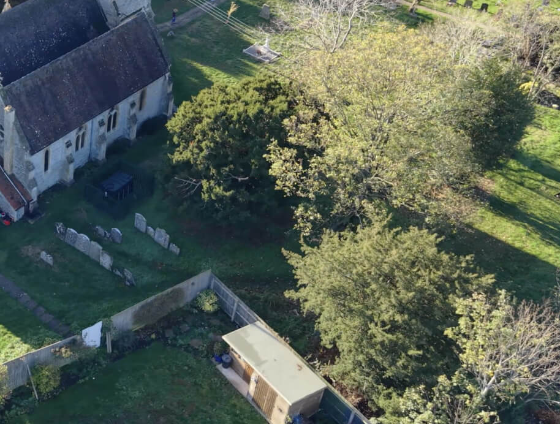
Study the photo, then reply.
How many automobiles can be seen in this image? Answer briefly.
none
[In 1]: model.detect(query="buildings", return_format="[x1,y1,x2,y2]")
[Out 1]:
[221,318,332,424]
[0,0,176,222]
